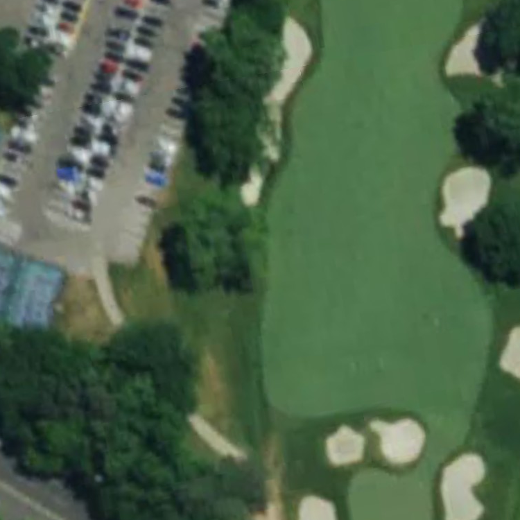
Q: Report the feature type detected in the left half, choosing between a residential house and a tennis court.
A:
tennis court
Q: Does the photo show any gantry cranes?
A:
No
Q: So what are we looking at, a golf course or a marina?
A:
golf course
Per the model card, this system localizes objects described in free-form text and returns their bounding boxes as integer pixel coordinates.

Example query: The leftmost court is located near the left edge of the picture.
[0,248,20,313]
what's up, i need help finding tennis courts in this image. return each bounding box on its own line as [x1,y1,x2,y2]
[0,256,62,332]
[0,248,20,313]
